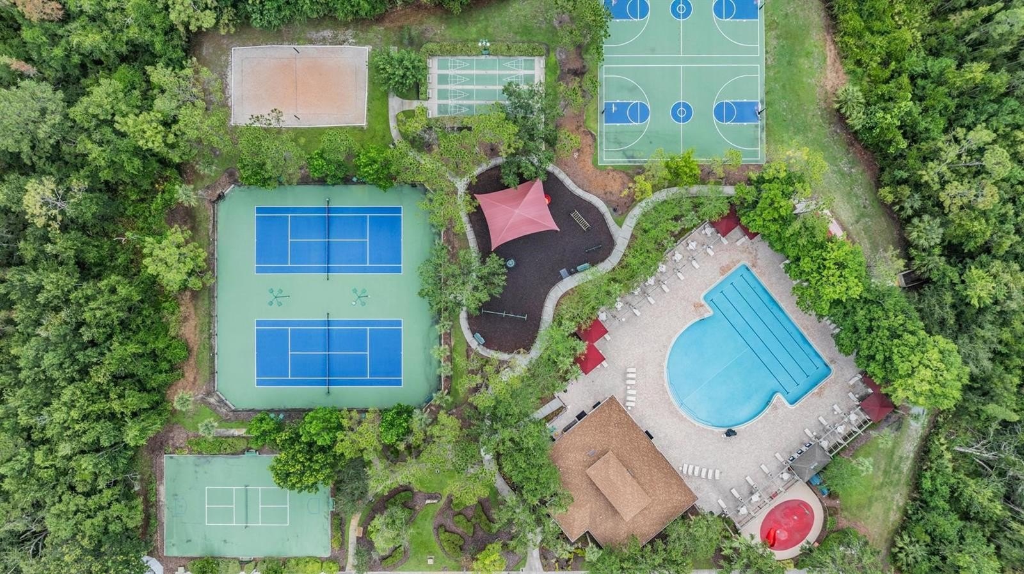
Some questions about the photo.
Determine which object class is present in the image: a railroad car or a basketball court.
basketball court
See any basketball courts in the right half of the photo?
Yes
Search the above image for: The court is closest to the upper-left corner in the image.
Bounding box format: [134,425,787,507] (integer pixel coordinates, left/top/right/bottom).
[231,45,368,127]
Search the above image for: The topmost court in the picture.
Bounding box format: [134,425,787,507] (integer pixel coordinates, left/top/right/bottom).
[604,0,759,56]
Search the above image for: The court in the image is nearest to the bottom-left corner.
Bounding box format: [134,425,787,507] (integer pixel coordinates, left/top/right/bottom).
[164,455,331,557]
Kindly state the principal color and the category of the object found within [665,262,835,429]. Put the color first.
blue swimming pool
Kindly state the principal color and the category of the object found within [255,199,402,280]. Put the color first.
blue tennis court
